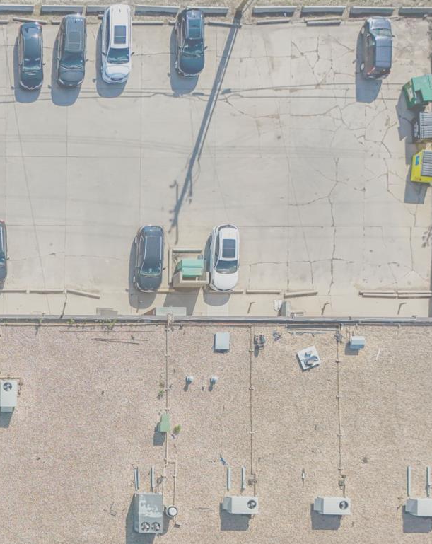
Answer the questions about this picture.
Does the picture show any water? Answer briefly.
No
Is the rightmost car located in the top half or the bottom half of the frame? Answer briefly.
top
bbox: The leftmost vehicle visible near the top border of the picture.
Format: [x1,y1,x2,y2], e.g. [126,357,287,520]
[15,22,48,93]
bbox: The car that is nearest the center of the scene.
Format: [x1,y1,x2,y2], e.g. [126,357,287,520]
[208,224,242,293]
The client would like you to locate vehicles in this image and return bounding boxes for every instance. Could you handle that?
[15,22,48,93]
[357,17,397,82]
[134,226,168,294]
[208,224,242,293]
[175,9,209,79]
[101,6,136,85]
[55,14,89,88]
[0,219,11,284]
